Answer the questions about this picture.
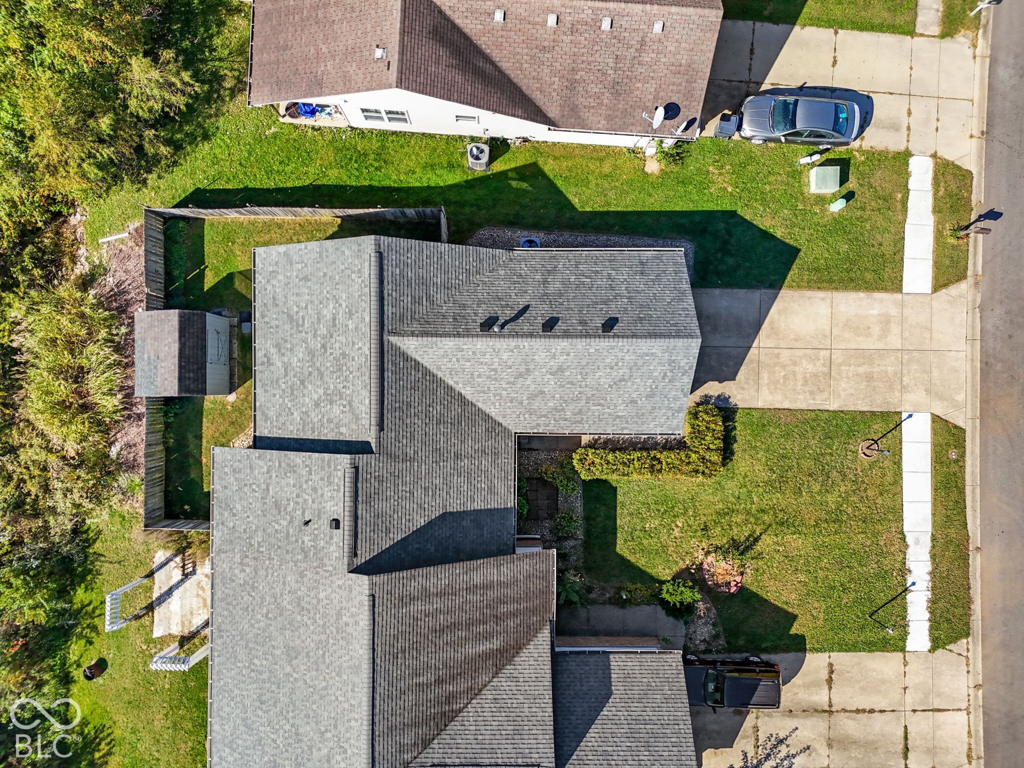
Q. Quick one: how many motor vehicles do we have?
2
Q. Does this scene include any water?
No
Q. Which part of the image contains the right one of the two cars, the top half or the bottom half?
top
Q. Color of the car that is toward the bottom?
black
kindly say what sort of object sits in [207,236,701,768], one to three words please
house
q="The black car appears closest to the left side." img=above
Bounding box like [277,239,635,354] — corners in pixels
[684,654,786,717]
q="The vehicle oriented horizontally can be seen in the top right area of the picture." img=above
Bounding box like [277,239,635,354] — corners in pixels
[737,85,859,147]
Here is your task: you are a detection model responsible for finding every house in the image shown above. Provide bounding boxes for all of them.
[245,0,724,154]
[207,236,701,768]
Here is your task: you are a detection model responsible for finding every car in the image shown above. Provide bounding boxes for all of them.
[737,85,859,147]
[684,654,786,717]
